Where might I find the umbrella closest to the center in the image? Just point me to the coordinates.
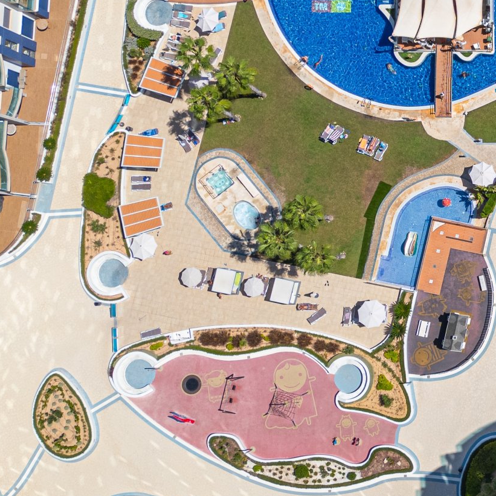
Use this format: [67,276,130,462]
[243,275,266,297]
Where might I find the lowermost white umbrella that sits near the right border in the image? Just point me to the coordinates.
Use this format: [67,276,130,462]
[469,161,496,188]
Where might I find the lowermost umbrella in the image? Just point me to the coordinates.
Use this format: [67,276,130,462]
[358,300,386,328]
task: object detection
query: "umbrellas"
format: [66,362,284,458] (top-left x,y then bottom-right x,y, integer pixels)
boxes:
[189,72,211,89]
[469,161,496,188]
[128,232,159,260]
[197,10,219,31]
[181,267,205,288]
[243,275,266,297]
[358,300,386,328]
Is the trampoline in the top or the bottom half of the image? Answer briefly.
bottom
